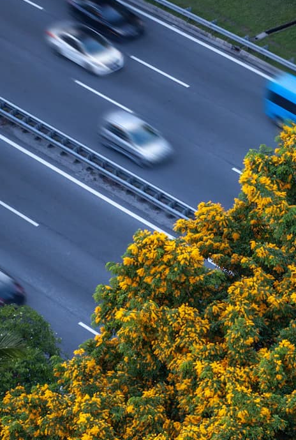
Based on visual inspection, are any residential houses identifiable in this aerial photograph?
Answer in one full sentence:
No, the photo shows no residential house.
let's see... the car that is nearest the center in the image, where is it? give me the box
[99,112,170,167]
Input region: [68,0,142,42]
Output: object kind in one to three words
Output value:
car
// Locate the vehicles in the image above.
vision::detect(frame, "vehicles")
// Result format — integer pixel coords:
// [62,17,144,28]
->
[45,27,120,79]
[266,73,296,122]
[99,112,170,167]
[68,0,142,42]
[0,266,29,311]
